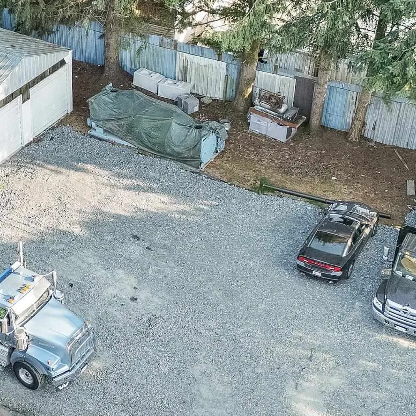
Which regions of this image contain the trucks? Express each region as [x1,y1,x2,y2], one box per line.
[375,226,416,338]
[0,232,102,394]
